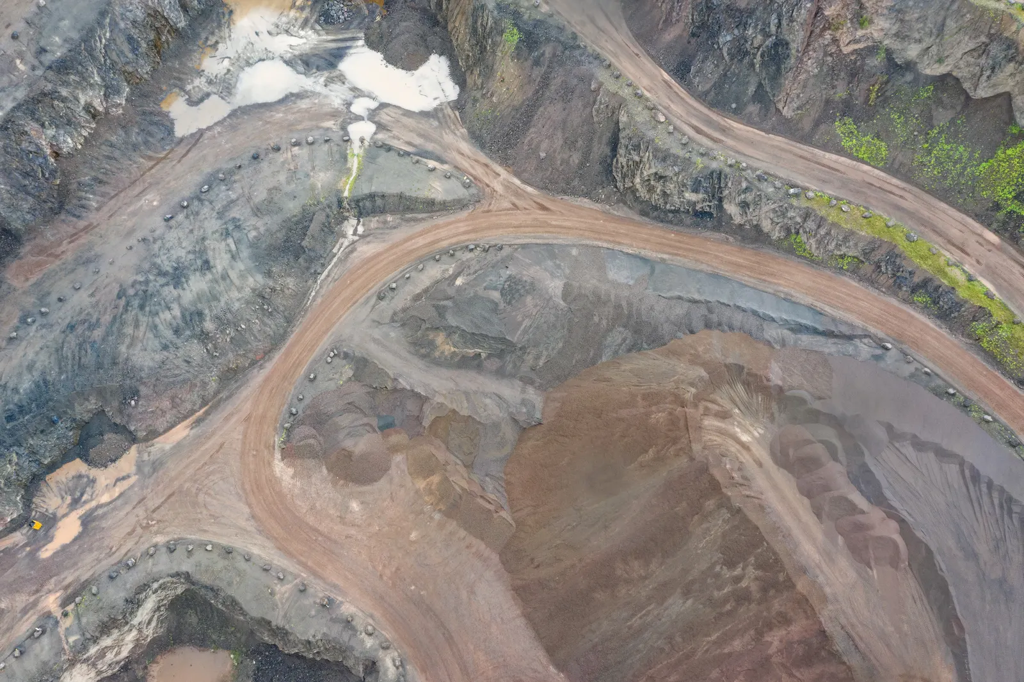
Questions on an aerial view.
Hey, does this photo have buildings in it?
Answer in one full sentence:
No, the photo shows no building.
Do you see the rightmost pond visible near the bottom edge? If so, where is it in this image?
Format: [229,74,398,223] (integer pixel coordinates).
[148,645,235,682]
